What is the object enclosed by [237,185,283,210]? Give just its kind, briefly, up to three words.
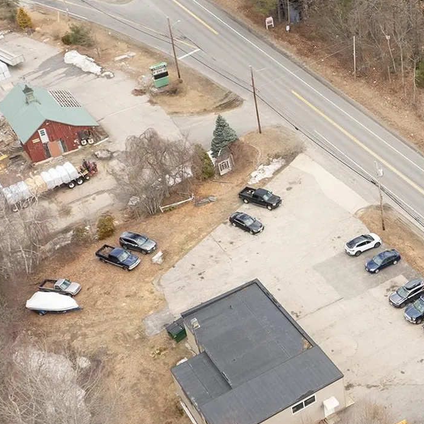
truck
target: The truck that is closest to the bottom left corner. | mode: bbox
[38,271,84,295]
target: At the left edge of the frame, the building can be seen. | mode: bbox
[0,72,105,164]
